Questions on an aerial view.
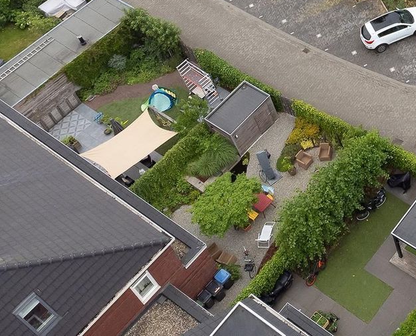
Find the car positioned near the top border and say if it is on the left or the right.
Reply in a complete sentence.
It is on the right.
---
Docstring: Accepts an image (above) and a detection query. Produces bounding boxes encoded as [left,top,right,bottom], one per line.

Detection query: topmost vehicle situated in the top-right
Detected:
[359,8,416,55]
